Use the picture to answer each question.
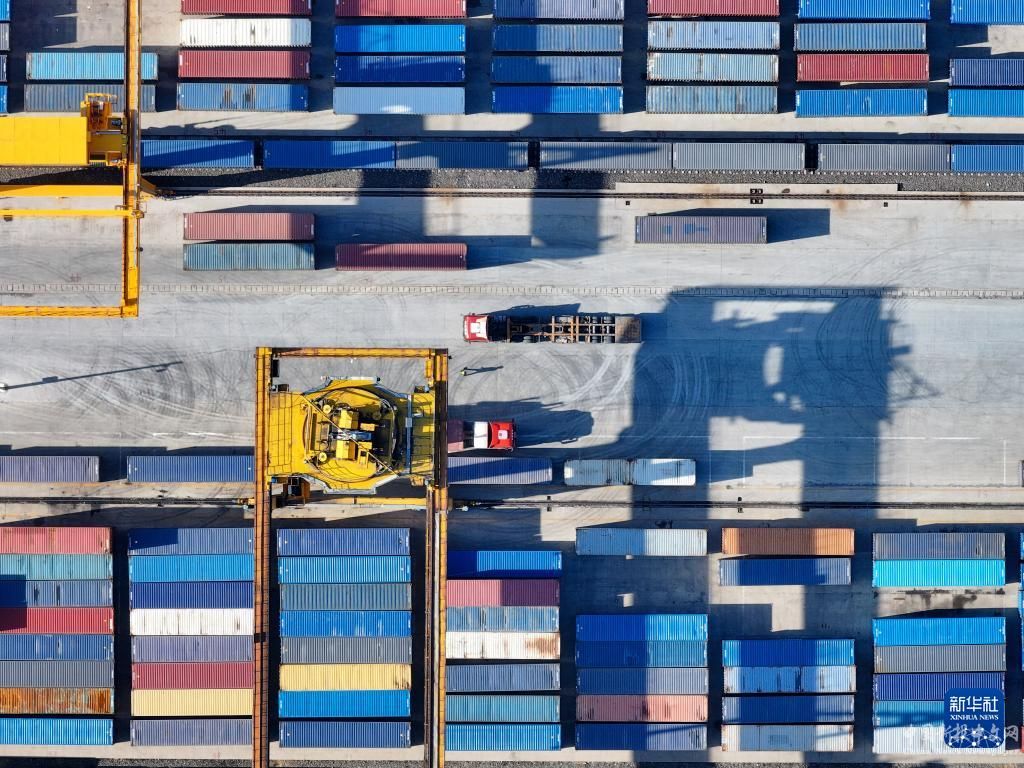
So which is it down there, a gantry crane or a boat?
gantry crane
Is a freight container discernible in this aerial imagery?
Yes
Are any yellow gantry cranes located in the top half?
Yes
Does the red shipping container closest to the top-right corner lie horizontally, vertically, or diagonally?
horizontally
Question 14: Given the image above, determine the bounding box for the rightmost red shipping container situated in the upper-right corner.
[796,54,928,82]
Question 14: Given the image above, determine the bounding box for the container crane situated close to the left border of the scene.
[0,0,182,318]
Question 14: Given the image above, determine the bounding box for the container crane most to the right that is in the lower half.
[245,348,469,768]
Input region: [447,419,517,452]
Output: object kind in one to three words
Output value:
truck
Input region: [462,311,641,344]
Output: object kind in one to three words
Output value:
truck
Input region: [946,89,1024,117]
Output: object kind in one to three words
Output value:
shipping container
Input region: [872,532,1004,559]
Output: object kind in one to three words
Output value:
shipping container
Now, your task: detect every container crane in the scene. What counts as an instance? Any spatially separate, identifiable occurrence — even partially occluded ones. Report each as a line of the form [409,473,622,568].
[0,0,182,318]
[245,348,469,768]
